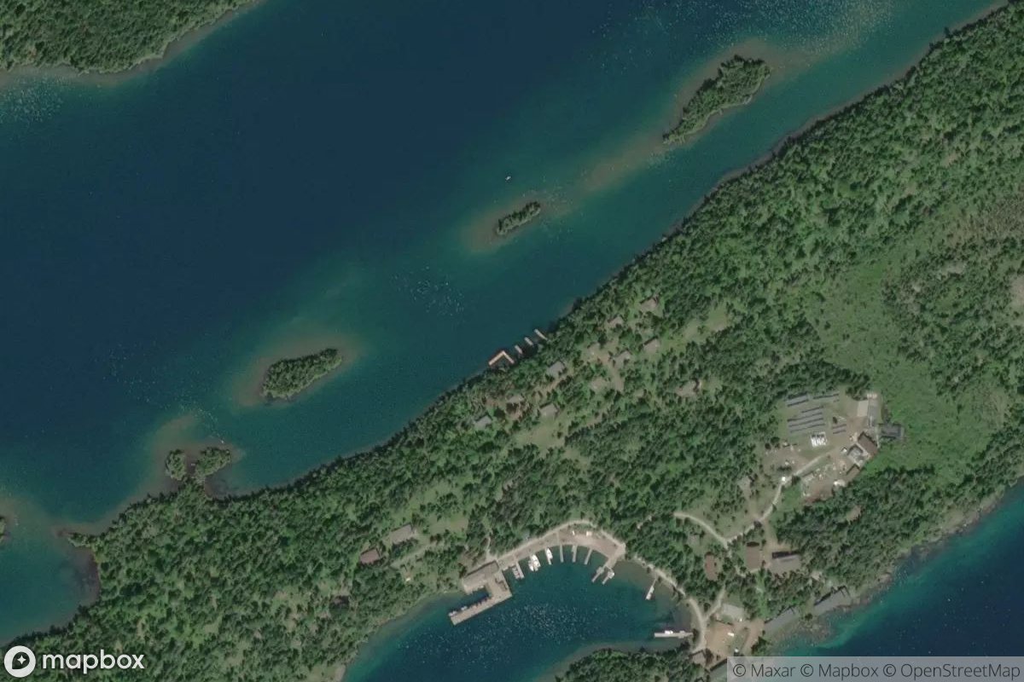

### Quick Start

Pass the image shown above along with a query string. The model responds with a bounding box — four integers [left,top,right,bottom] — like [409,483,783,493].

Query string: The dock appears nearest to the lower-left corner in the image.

[450,567,512,625]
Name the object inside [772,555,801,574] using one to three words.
building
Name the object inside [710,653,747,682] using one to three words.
building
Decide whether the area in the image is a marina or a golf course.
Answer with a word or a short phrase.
marina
